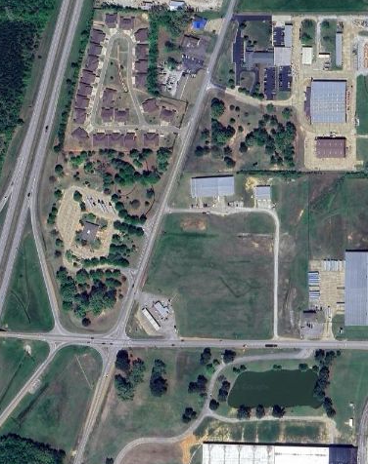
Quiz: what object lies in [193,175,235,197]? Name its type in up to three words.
shed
